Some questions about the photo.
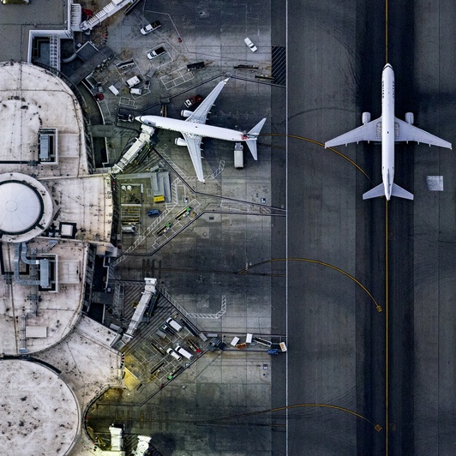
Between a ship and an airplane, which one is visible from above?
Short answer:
airplane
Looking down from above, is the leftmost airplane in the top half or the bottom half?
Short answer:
top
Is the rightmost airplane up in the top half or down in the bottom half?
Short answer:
top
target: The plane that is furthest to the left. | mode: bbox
[137,76,264,180]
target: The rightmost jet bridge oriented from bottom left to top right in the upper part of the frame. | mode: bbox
[109,119,161,176]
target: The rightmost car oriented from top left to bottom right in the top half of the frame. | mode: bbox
[244,37,257,52]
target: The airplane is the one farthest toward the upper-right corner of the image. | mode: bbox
[324,64,453,199]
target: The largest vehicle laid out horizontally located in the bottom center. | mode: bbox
[203,334,232,352]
